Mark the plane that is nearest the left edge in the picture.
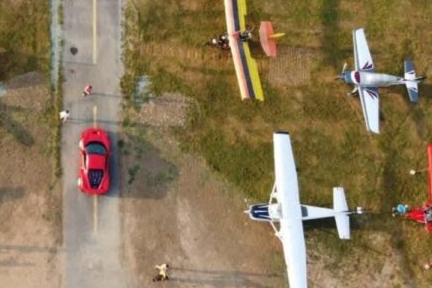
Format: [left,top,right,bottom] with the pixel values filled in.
[202,0,289,99]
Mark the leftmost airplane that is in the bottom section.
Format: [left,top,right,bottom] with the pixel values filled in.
[243,132,369,288]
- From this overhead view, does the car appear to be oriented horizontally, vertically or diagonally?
vertically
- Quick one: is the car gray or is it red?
red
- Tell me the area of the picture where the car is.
left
